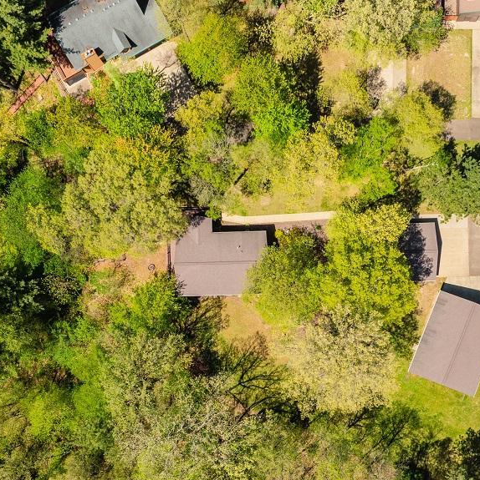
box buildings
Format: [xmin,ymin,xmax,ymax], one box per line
[408,291,480,397]
[397,221,438,282]
[171,208,267,295]
[43,0,172,87]
[439,0,480,21]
